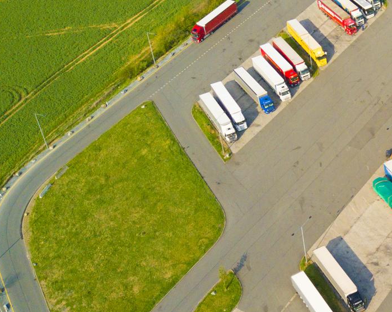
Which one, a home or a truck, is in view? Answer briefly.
truck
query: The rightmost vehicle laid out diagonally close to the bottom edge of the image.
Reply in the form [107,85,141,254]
[314,247,367,312]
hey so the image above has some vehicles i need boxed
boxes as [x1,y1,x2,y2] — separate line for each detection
[252,56,291,103]
[291,271,333,312]
[366,0,382,10]
[191,0,237,43]
[349,0,376,19]
[331,0,366,26]
[374,174,392,206]
[233,67,275,114]
[199,93,237,143]
[289,21,326,66]
[211,82,247,132]
[262,44,300,89]
[319,0,358,36]
[273,37,311,83]
[314,247,367,312]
